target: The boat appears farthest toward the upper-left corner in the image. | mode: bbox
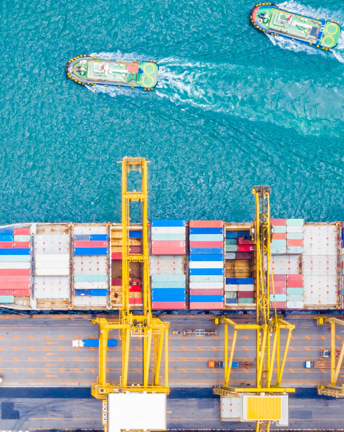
[65,55,159,92]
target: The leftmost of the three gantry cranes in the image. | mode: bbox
[82,156,173,432]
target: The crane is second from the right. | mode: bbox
[202,185,294,432]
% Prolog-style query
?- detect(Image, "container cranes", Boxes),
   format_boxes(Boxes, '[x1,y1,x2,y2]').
[308,318,344,392]
[82,156,173,432]
[202,185,294,432]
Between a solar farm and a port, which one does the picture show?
port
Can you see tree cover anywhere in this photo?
No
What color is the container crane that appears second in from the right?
yellow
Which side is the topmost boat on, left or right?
right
